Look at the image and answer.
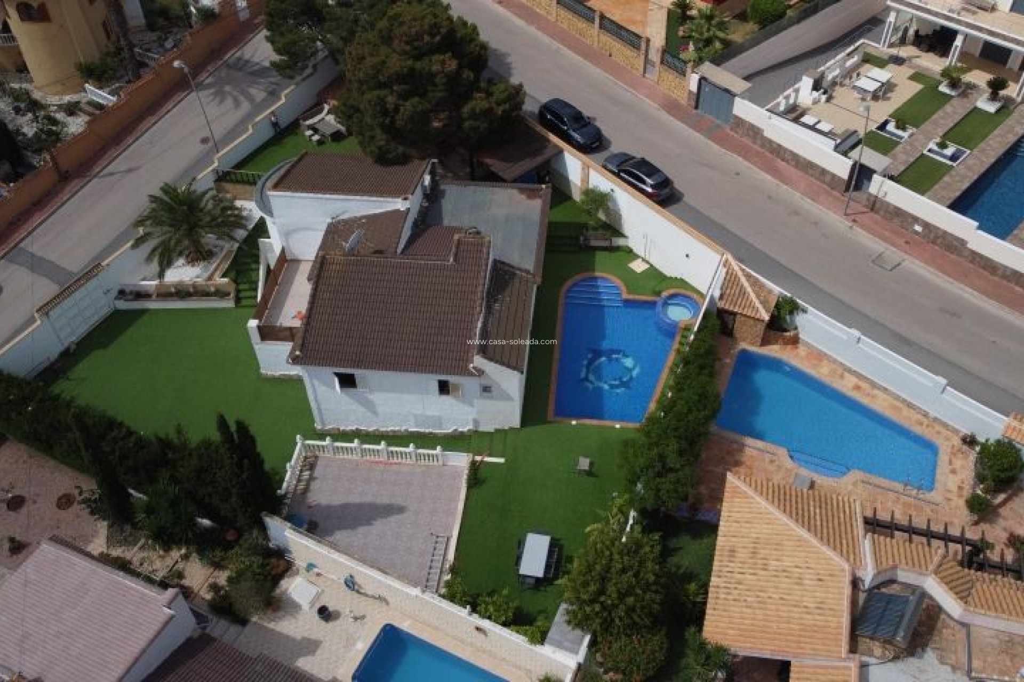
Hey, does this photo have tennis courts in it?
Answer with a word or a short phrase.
No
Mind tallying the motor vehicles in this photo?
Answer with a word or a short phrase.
2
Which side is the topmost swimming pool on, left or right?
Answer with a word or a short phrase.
right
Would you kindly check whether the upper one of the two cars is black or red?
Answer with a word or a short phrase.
black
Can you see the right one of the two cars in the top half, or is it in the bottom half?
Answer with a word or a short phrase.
top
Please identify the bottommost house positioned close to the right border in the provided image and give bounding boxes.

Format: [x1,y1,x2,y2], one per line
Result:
[703,471,1024,682]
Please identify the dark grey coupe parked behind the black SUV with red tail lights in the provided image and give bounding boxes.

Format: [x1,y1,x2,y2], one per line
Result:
[608,155,680,203]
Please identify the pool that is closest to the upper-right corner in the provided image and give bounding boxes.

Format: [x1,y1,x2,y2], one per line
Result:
[955,149,1024,241]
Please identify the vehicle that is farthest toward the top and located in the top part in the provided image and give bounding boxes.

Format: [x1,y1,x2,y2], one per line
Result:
[538,102,605,154]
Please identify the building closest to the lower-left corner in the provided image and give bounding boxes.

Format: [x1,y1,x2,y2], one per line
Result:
[0,534,188,682]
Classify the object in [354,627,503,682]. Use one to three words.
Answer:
swimming pool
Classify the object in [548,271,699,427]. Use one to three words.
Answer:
swimming pool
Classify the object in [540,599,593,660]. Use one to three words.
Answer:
shed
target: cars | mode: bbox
[538,102,605,154]
[608,155,680,203]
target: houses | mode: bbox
[243,154,550,426]
[703,471,1024,682]
[0,534,188,682]
[878,0,1024,98]
[0,0,148,84]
